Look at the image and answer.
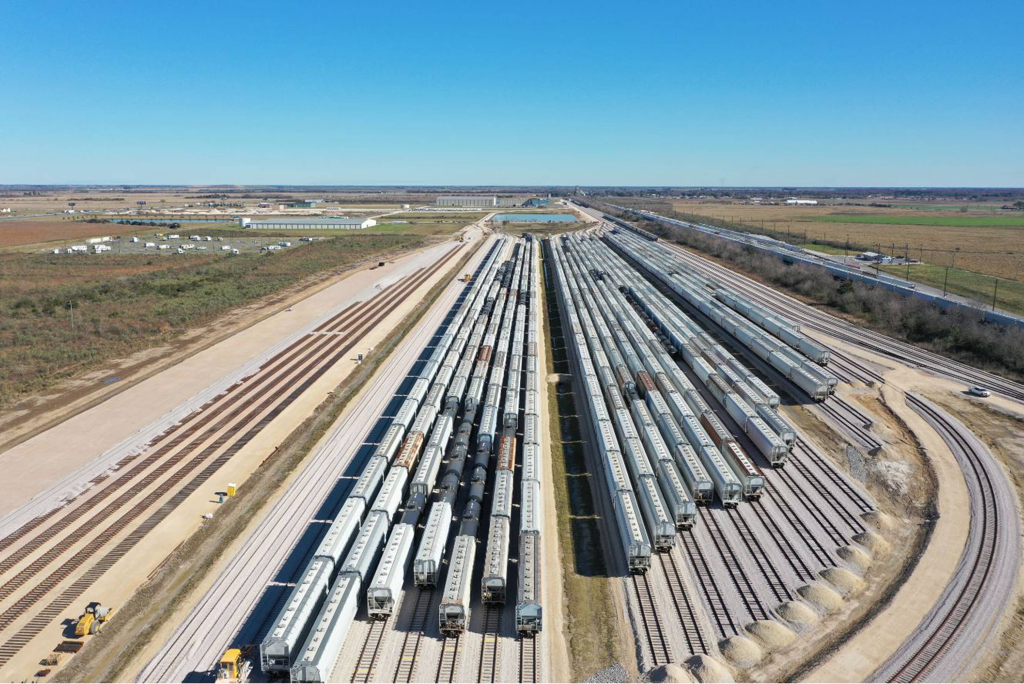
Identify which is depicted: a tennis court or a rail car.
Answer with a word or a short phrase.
rail car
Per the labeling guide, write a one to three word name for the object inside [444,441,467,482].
rail car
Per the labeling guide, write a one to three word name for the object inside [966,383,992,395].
vehicle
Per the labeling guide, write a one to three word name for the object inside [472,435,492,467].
rail car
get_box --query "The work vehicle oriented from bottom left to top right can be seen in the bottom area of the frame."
[68,604,117,637]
